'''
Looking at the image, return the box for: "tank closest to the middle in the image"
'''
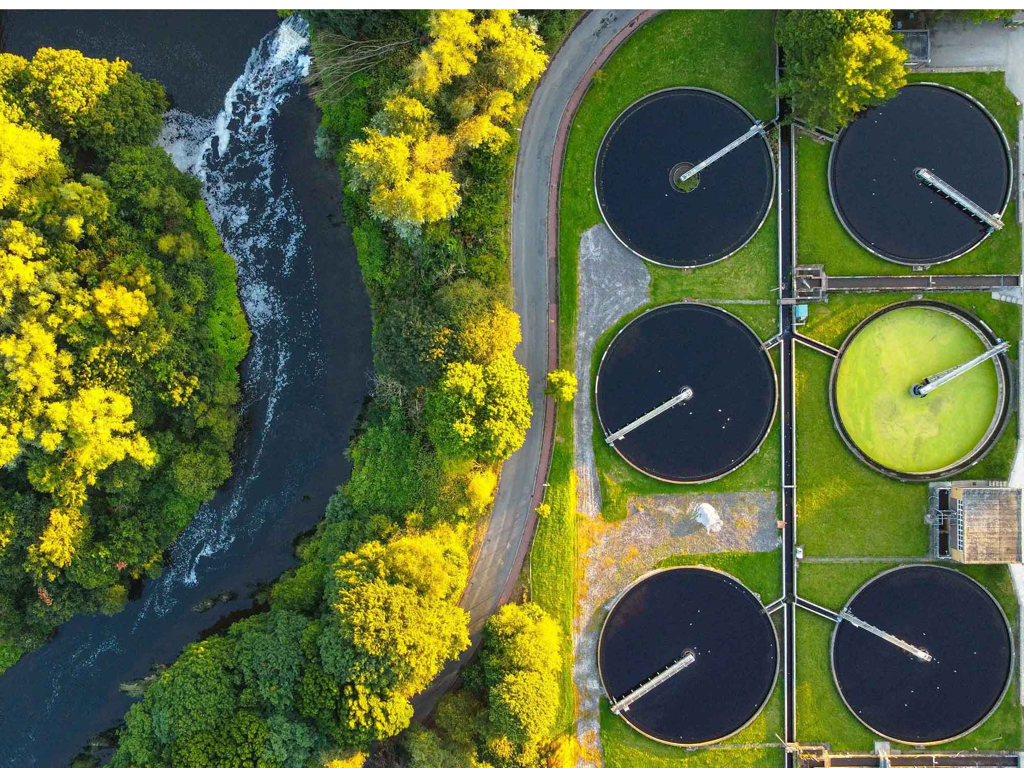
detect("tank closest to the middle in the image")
[595,301,778,483]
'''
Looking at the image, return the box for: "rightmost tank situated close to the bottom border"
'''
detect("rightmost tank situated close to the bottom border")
[830,563,1014,747]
